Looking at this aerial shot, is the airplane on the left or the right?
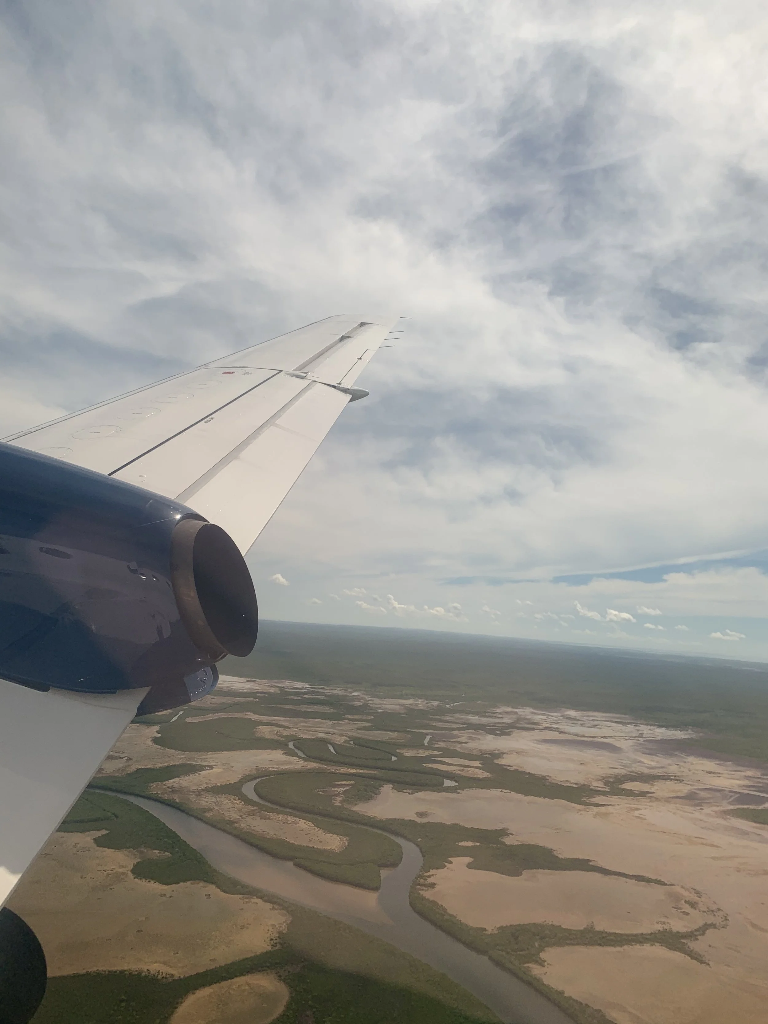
left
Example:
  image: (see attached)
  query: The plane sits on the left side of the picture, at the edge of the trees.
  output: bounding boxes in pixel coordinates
[0,314,408,1024]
